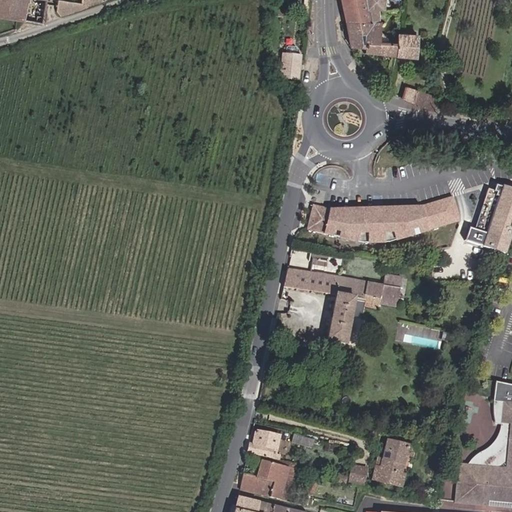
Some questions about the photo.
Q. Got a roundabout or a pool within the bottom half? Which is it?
pool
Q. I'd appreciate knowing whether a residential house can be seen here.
Yes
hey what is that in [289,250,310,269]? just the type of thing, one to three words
building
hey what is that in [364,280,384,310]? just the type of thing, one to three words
house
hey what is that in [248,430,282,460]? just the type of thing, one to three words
house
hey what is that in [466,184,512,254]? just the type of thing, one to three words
building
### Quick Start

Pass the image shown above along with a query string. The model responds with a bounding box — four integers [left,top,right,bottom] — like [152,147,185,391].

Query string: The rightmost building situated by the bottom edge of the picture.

[455,384,512,506]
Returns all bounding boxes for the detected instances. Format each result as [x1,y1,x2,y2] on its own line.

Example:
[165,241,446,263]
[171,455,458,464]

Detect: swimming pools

[396,323,442,350]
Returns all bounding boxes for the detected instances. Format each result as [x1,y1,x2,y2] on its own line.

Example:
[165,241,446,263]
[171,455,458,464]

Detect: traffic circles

[323,96,366,140]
